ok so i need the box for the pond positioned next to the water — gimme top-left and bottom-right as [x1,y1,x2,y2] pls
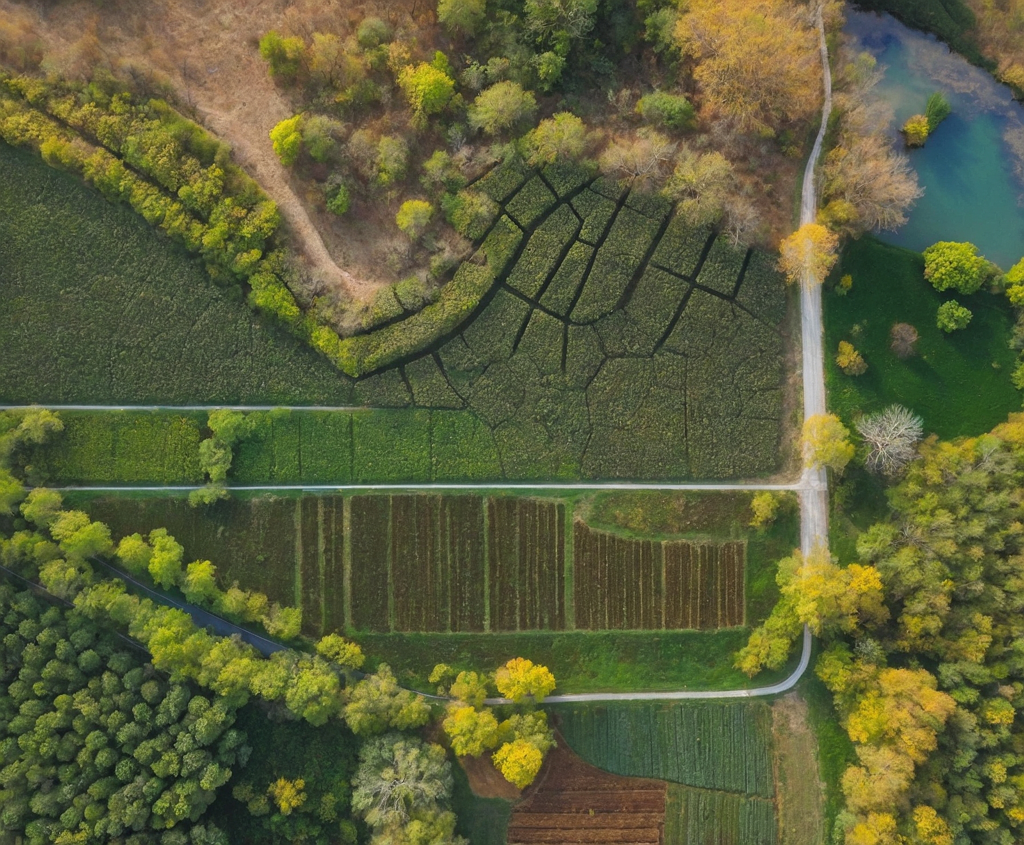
[843,9,1024,266]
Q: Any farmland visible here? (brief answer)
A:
Yes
